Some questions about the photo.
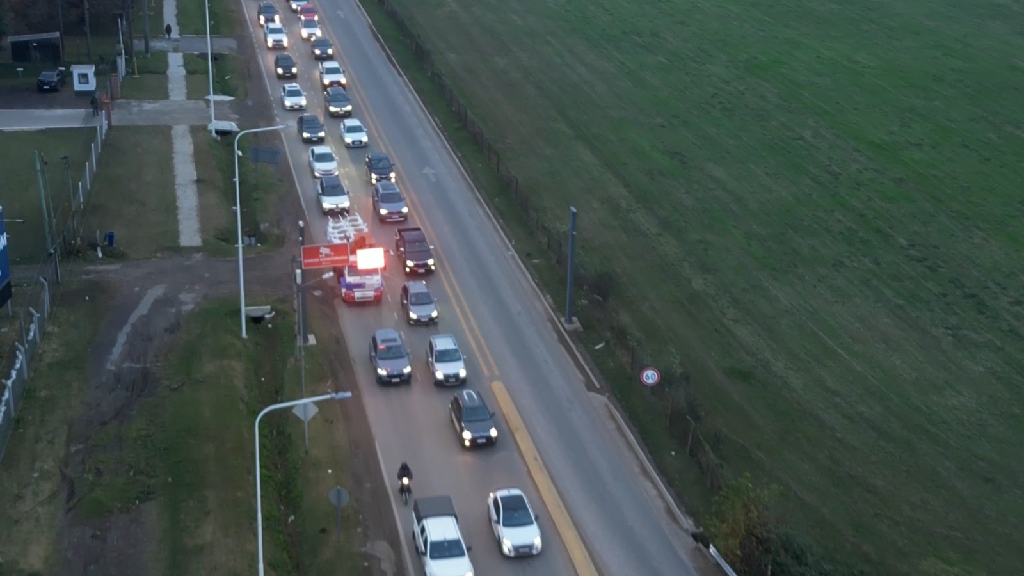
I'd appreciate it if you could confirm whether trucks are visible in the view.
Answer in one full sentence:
Yes, there's a truck here.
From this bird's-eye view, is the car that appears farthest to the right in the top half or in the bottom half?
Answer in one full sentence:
You can find the car that appears farthest to the right in the bottom half.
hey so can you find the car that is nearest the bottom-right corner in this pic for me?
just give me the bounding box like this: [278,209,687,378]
[484,490,542,559]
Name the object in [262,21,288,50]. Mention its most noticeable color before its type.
white truck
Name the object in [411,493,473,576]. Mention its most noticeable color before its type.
white truck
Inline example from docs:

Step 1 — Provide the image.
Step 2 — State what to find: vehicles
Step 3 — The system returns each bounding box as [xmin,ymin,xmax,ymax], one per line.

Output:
[362,146,396,184]
[367,329,411,384]
[297,15,322,40]
[371,179,407,222]
[338,116,368,148]
[272,51,297,79]
[398,276,437,325]
[297,113,325,143]
[262,21,288,50]
[316,175,349,214]
[391,227,434,273]
[308,34,334,60]
[279,84,306,111]
[256,0,280,27]
[286,0,306,13]
[394,472,412,502]
[484,490,542,559]
[325,230,385,302]
[296,2,319,22]
[448,384,496,448]
[324,85,352,118]
[411,493,473,576]
[316,57,345,89]
[423,332,466,386]
[307,145,338,178]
